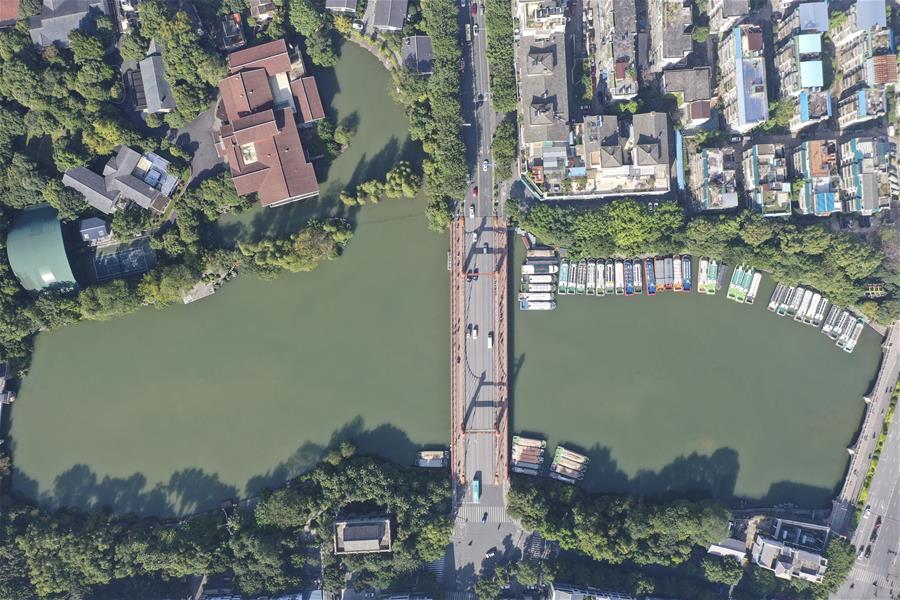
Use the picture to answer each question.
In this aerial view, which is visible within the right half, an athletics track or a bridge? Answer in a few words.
bridge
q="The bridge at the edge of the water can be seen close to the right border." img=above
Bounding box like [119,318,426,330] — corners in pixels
[831,312,900,521]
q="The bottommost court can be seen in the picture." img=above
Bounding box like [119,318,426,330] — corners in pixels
[91,241,158,286]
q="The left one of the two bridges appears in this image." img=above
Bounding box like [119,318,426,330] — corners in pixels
[449,211,511,488]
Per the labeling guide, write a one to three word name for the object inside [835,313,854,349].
boat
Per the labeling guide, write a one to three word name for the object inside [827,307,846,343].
boat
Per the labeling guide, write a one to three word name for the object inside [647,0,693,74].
building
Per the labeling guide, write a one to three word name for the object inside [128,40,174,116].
house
